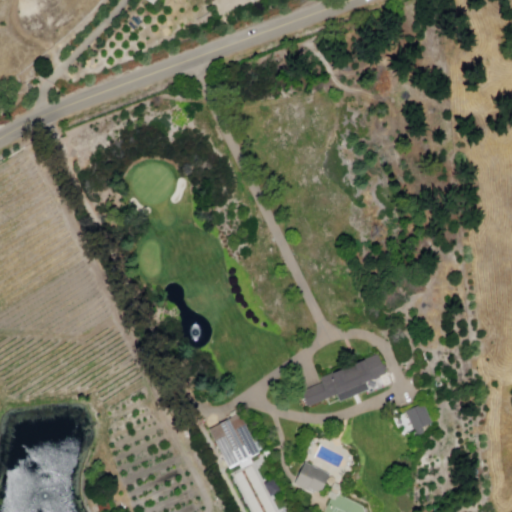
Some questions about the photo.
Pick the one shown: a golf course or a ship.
golf course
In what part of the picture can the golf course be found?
center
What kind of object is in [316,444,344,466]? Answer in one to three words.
swimming pool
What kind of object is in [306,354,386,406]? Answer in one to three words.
house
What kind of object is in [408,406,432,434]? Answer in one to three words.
house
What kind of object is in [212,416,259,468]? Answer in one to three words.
greenhouse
